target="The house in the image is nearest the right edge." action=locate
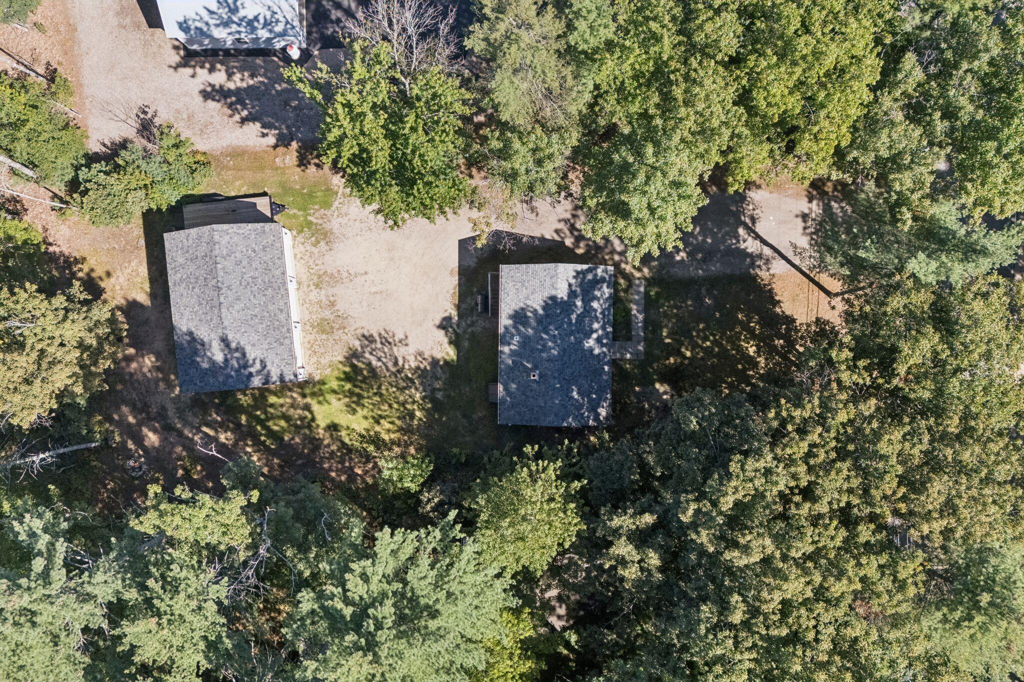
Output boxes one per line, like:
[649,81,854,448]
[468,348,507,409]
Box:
[496,262,614,428]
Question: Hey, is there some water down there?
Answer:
No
